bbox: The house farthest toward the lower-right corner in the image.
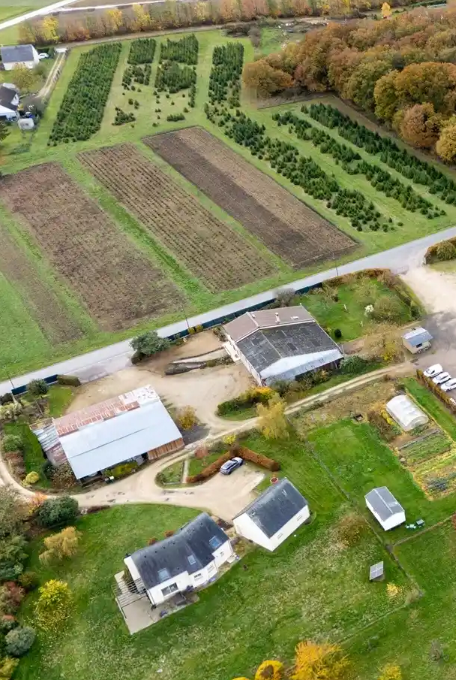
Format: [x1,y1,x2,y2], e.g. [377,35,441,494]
[364,486,406,531]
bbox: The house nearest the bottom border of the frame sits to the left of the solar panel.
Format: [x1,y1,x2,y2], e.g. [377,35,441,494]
[133,518,233,604]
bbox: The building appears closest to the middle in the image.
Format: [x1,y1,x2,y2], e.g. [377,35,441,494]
[209,300,352,396]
